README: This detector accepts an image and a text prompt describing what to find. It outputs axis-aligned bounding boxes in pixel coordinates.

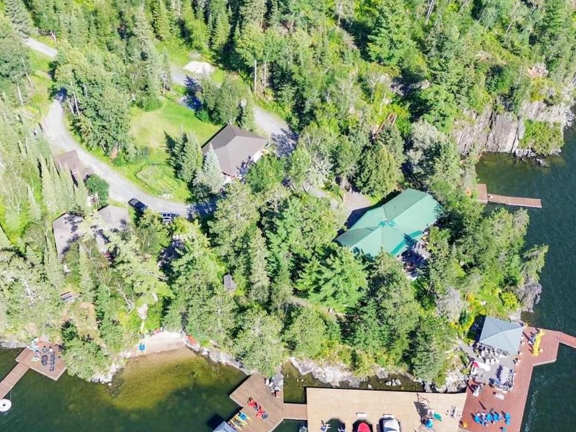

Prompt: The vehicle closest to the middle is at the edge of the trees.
[157,207,181,219]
